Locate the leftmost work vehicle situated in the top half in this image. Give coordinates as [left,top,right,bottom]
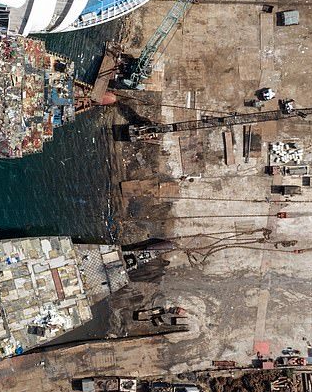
[255,81,289,102]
